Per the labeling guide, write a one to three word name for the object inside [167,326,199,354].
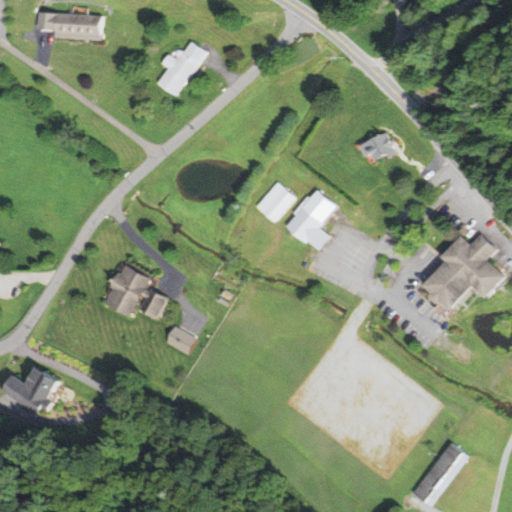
shed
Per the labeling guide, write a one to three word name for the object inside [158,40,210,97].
house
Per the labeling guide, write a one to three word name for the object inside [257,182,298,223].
shed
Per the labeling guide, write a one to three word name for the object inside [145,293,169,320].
building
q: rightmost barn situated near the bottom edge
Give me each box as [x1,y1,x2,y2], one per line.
[413,442,470,506]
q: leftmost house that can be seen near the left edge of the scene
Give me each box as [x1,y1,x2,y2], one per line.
[3,368,63,412]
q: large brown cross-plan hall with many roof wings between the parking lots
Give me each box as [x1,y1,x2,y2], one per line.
[423,234,508,310]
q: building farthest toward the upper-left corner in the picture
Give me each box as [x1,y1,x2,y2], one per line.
[38,6,107,40]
